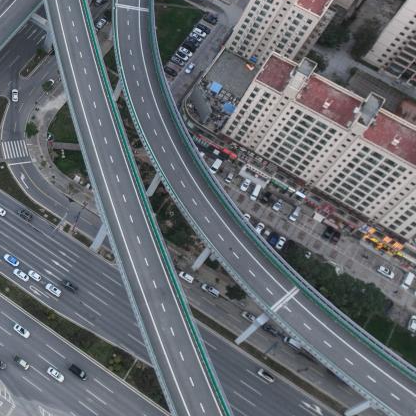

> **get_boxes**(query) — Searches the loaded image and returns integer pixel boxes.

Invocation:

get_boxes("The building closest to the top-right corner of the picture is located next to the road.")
[362,0,416,82]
